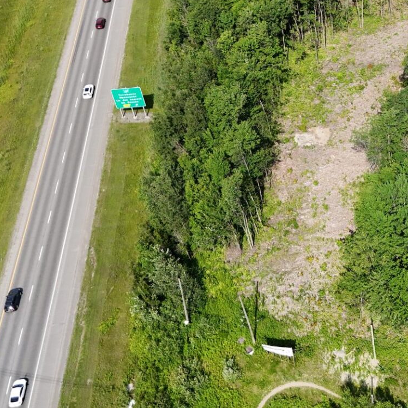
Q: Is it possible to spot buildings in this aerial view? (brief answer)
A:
No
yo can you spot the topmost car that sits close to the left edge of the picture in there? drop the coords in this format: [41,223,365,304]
[3,286,22,312]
